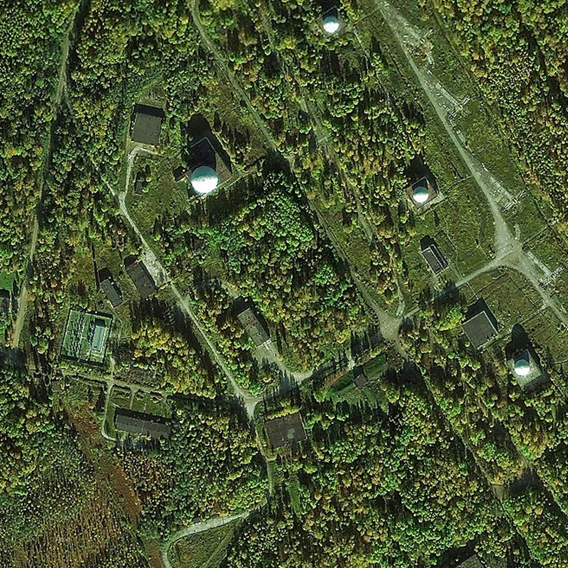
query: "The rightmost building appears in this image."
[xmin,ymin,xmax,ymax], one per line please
[507,349,543,389]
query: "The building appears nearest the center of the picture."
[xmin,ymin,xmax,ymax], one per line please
[237,307,270,346]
